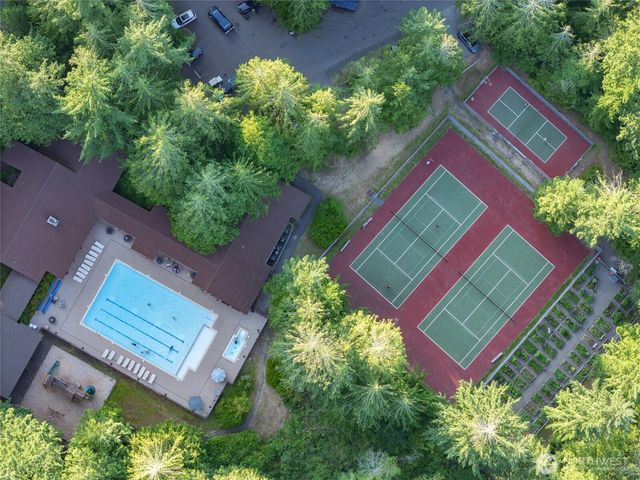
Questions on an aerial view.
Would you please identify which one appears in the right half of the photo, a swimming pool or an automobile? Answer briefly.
automobile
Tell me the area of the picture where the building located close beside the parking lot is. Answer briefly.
left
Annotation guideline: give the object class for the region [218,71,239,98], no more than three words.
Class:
car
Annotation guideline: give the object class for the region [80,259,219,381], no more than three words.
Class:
swimming pool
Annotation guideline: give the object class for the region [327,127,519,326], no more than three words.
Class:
tennis court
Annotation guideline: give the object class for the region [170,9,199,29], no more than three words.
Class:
car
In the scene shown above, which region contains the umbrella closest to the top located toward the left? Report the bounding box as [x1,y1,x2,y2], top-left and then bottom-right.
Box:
[211,368,226,382]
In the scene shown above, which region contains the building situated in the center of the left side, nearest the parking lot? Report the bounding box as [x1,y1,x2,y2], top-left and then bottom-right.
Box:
[0,111,311,314]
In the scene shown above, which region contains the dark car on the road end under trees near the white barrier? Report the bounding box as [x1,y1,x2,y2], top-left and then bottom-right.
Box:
[454,28,480,55]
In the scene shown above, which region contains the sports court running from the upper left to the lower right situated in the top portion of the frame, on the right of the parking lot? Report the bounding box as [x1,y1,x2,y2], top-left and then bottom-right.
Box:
[467,68,590,178]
